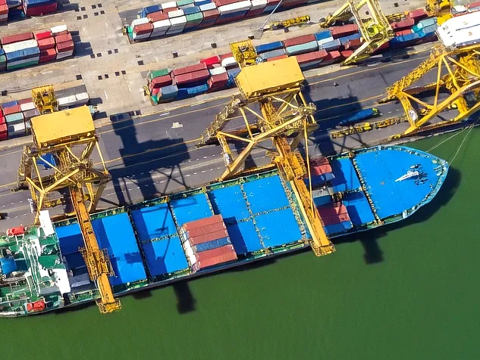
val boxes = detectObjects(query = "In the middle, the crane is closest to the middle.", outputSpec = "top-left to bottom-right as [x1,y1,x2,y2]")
[201,38,342,262]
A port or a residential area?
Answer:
port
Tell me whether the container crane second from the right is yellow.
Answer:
Yes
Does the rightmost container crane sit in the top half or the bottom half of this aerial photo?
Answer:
top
